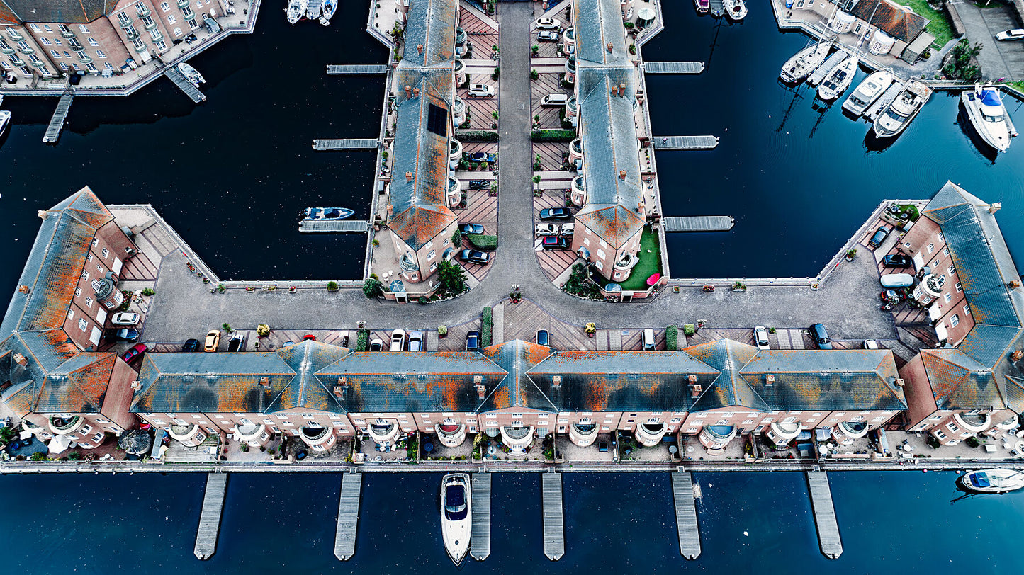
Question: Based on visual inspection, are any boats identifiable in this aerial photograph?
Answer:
Yes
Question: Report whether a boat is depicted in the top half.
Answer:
Yes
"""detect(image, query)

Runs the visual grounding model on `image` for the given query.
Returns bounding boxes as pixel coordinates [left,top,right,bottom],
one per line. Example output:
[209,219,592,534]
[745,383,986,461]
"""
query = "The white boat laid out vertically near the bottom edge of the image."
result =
[441,476,476,563]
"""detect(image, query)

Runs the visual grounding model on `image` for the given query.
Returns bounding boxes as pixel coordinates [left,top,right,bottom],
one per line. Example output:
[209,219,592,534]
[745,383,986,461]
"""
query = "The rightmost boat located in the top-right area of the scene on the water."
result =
[960,84,1010,149]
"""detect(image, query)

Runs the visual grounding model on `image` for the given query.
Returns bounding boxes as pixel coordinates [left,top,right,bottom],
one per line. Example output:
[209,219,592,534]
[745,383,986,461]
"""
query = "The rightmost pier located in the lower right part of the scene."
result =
[806,459,842,559]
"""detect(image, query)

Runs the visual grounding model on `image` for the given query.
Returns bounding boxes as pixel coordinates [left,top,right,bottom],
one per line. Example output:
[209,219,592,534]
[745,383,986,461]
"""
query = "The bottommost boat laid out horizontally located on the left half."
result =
[303,209,355,222]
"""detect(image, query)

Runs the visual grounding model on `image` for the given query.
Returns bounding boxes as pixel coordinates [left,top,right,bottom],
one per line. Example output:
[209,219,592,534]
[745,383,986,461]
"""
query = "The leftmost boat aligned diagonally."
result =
[179,65,207,89]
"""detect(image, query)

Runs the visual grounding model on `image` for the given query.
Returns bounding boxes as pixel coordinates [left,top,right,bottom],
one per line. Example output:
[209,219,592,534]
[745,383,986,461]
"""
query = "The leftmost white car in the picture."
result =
[110,311,145,326]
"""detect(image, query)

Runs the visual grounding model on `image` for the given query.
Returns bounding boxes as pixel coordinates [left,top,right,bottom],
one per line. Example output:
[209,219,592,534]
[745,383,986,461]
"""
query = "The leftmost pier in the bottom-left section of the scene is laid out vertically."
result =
[196,461,228,560]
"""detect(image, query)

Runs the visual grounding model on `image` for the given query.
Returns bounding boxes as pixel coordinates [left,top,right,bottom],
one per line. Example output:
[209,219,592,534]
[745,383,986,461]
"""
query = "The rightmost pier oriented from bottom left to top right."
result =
[864,72,912,121]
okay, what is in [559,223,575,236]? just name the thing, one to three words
vehicle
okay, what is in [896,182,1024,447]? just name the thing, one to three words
building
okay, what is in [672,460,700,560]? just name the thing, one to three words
pier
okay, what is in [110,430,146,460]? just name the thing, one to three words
gazebo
